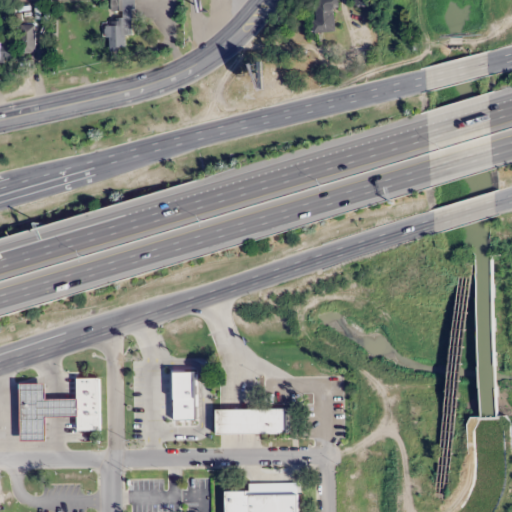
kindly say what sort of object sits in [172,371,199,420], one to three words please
building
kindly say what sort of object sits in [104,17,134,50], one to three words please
house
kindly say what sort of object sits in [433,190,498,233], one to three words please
bridge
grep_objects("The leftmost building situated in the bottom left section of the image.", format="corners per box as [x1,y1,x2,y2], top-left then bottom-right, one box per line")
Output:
[76,377,102,431]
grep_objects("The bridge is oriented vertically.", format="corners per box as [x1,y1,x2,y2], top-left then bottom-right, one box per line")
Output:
[434,264,474,499]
